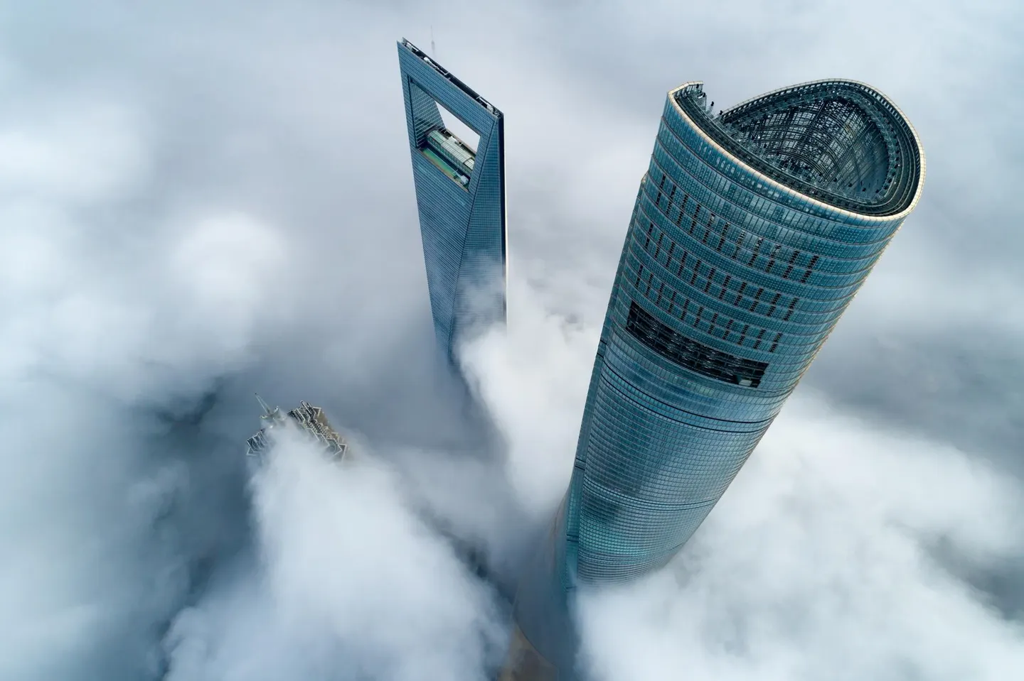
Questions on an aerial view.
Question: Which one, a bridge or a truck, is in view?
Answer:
bridge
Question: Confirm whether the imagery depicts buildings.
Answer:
Yes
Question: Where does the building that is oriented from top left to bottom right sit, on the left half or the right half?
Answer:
left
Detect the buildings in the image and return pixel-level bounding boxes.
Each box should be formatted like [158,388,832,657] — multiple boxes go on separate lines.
[396,39,506,483]
[239,388,420,624]
[520,76,924,671]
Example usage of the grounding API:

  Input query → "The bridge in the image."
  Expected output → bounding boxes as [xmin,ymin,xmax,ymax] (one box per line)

[427,123,477,171]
